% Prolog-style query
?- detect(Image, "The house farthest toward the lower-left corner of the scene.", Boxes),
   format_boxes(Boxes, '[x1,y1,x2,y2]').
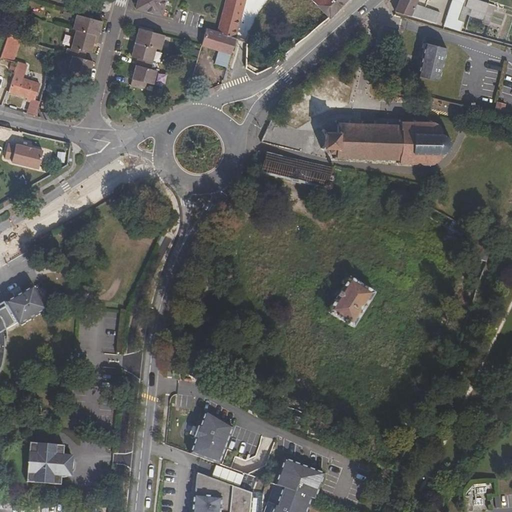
[26,442,75,485]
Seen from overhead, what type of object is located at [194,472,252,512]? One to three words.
building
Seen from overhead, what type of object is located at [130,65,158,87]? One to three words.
house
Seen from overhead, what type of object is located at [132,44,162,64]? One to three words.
house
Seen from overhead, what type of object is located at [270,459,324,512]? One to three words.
building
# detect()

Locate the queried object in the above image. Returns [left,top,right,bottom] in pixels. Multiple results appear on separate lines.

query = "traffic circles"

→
[152,104,245,196]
